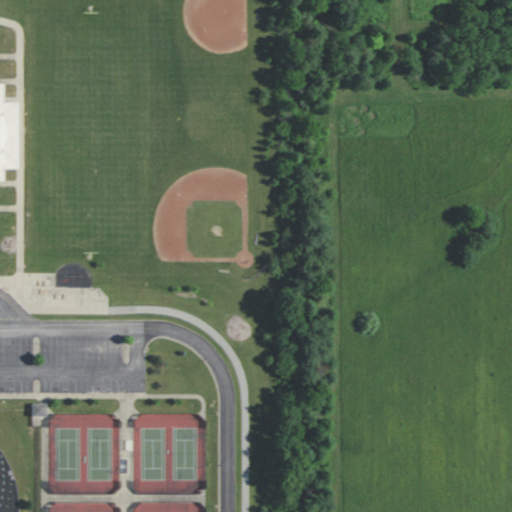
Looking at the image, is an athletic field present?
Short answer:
Yes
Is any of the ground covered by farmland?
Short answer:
Yes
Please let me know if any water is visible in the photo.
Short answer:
No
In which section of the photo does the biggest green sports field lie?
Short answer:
top left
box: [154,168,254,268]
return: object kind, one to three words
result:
baseball field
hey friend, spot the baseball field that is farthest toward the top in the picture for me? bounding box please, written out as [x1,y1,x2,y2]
[184,0,248,53]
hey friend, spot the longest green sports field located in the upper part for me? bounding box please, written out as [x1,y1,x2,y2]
[36,14,144,252]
